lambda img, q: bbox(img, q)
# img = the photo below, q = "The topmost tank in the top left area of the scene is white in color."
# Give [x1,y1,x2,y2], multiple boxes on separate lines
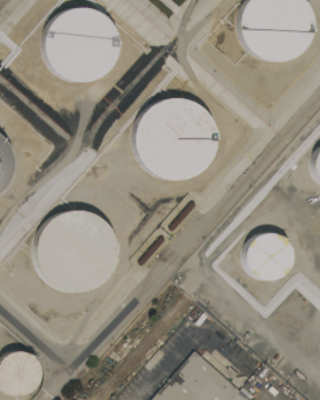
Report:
[40,7,120,85]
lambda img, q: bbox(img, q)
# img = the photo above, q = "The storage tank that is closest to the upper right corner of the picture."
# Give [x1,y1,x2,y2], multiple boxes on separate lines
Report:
[234,0,316,67]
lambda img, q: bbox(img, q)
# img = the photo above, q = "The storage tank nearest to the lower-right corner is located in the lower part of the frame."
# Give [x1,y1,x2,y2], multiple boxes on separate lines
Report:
[240,232,294,282]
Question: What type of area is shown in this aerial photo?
industrial area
